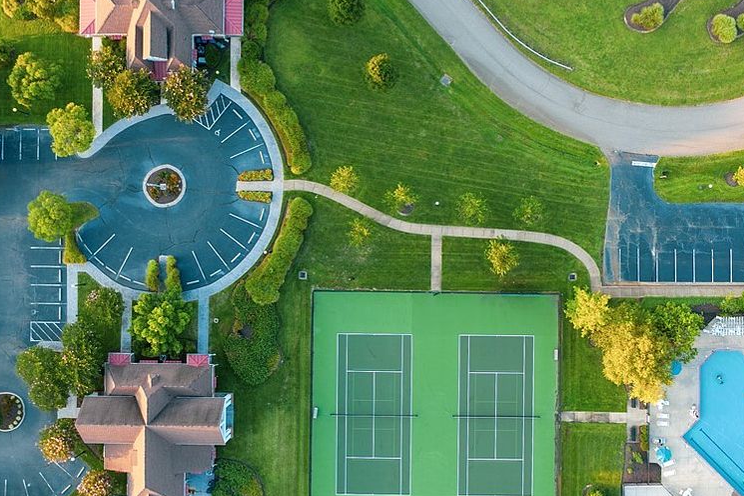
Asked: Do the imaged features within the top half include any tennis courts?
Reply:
No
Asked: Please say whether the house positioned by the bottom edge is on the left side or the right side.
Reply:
left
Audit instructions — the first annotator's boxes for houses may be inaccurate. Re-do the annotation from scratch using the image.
[73,353,234,496]
[79,0,246,84]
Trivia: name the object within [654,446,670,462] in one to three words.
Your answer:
umbrella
